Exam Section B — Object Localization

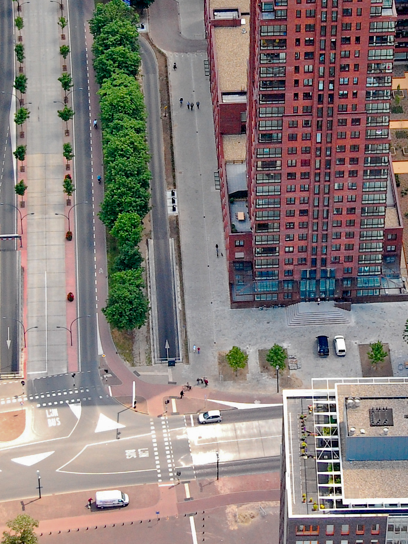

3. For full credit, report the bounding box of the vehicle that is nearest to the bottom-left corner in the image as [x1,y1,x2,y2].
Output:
[96,489,127,507]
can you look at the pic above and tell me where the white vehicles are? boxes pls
[334,337,345,356]
[197,409,222,424]
[96,489,127,507]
